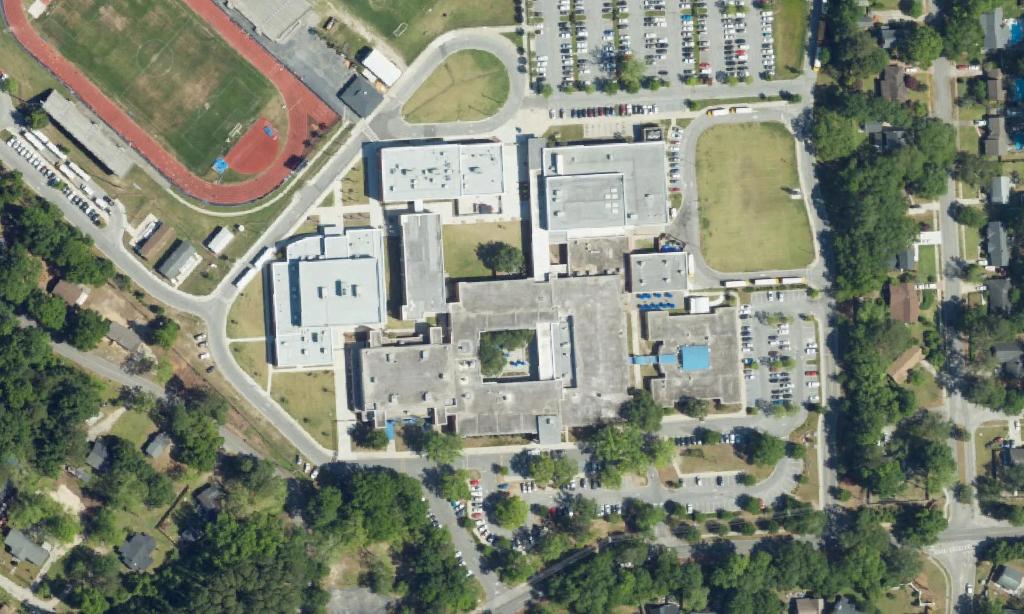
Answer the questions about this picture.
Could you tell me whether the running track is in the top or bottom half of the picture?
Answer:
top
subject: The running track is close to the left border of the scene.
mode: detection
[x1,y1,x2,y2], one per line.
[1,0,308,203]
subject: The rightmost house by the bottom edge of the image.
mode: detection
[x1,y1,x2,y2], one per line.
[997,567,1023,590]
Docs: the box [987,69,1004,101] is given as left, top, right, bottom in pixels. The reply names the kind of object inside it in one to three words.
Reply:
house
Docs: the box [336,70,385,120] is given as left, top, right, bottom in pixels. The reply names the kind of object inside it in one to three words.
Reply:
building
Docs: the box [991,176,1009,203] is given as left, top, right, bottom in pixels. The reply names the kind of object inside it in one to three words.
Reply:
house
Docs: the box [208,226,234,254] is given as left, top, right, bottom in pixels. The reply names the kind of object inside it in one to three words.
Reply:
shed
